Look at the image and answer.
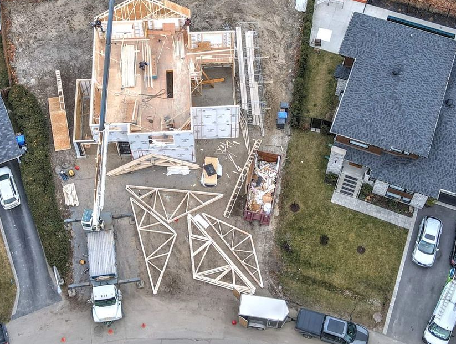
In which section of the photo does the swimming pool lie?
top right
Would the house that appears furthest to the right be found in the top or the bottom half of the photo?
top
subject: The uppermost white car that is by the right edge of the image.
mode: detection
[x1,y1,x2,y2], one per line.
[410,213,442,271]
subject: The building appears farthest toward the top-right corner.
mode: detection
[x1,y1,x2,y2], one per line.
[325,11,456,211]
